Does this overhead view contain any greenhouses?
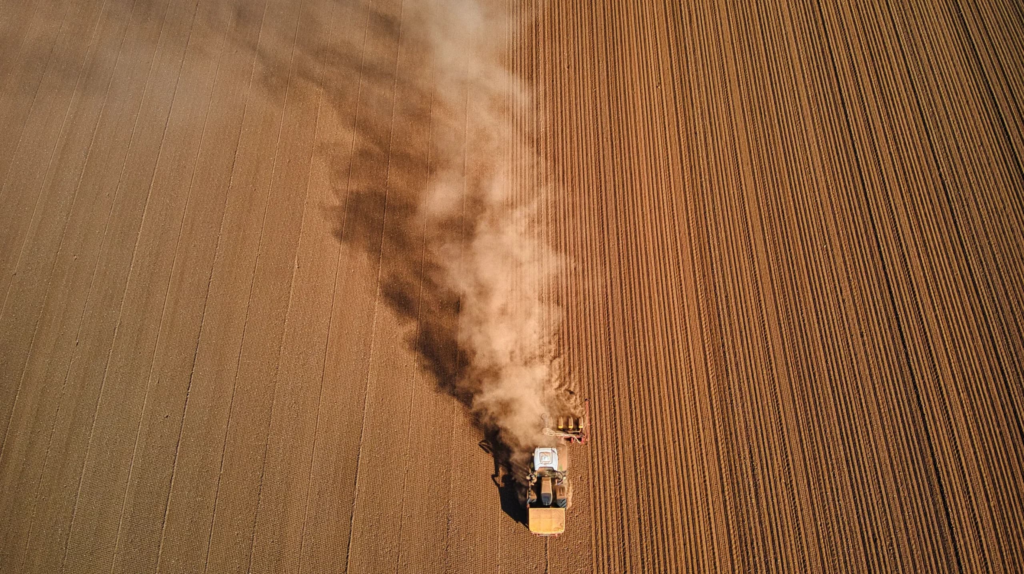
No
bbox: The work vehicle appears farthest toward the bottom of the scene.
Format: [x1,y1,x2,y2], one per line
[523,436,568,511]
